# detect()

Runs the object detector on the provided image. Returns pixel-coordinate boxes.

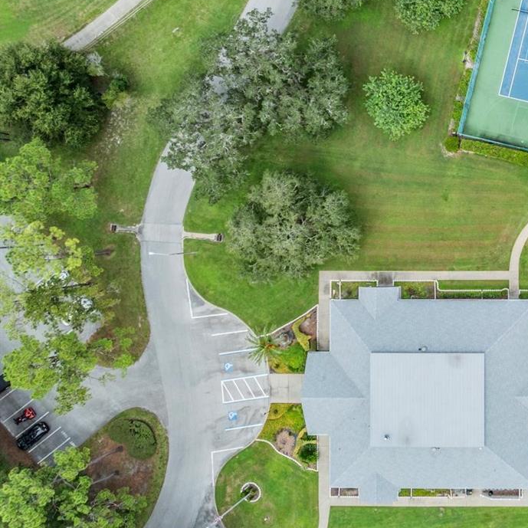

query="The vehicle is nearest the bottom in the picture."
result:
[11,423,47,454]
